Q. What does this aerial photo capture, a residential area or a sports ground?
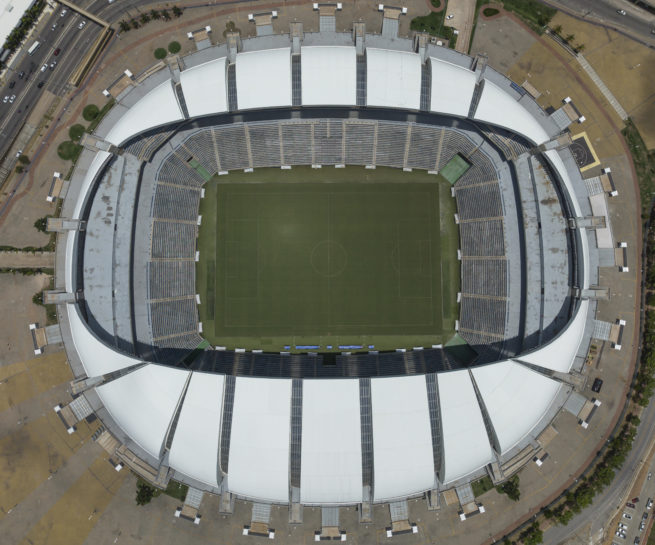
sports ground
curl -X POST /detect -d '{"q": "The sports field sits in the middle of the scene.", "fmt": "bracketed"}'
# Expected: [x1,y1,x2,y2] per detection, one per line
[196,165,461,353]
